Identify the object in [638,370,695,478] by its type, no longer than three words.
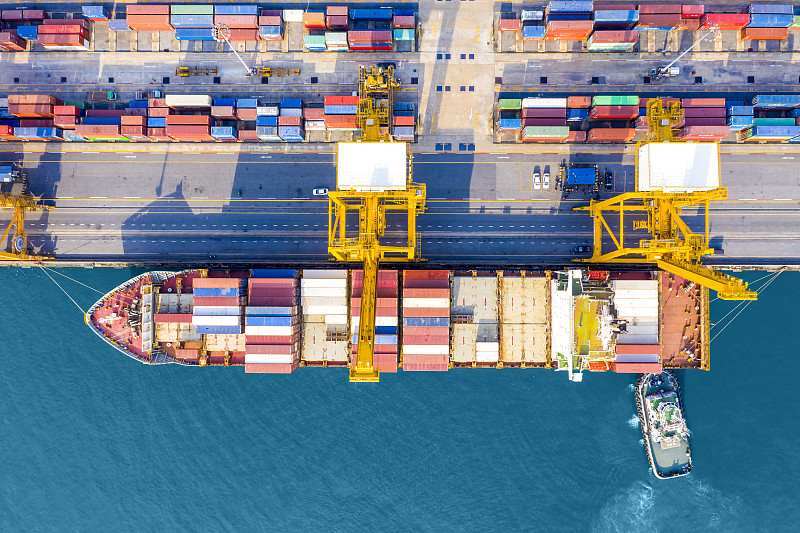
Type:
boat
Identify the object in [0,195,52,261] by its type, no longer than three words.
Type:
container crane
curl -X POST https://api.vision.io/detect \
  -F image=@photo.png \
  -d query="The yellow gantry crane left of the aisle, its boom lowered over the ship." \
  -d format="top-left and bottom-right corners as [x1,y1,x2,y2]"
[326,62,430,383]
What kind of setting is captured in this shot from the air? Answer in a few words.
port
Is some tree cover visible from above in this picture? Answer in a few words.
No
